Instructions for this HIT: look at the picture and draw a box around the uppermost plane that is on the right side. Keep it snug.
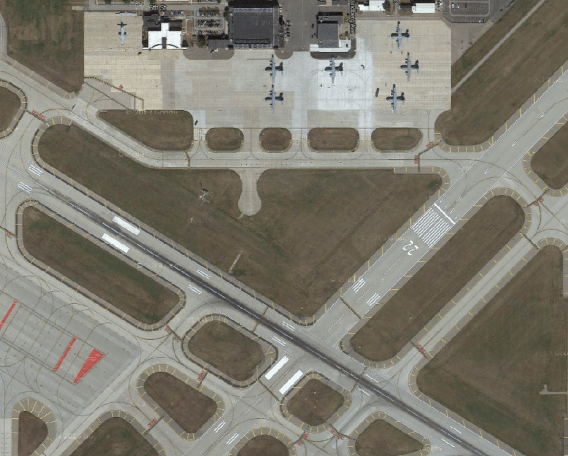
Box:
[392,22,411,49]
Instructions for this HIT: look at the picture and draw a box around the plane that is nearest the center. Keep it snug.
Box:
[265,85,284,112]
